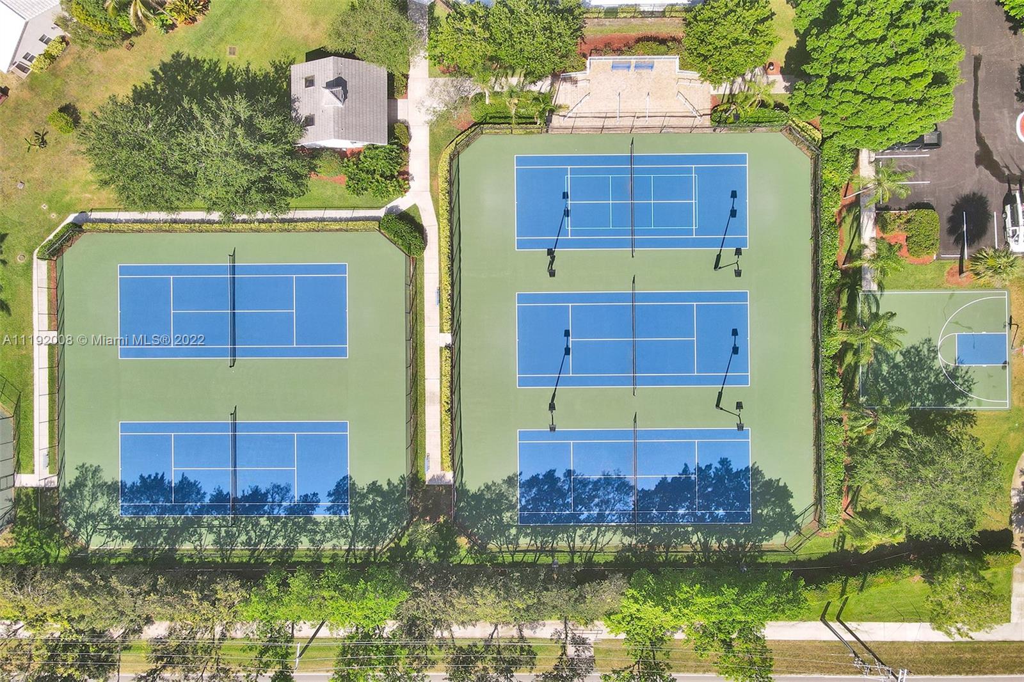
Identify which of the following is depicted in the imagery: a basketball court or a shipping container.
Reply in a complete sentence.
There is a basketball court in the scene.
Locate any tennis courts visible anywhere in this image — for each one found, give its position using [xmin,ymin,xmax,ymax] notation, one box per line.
[518,428,751,525]
[119,263,348,359]
[516,153,748,250]
[517,291,750,388]
[120,421,349,517]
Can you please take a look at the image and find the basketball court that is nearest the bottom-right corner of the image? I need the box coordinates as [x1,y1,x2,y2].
[856,287,1013,411]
